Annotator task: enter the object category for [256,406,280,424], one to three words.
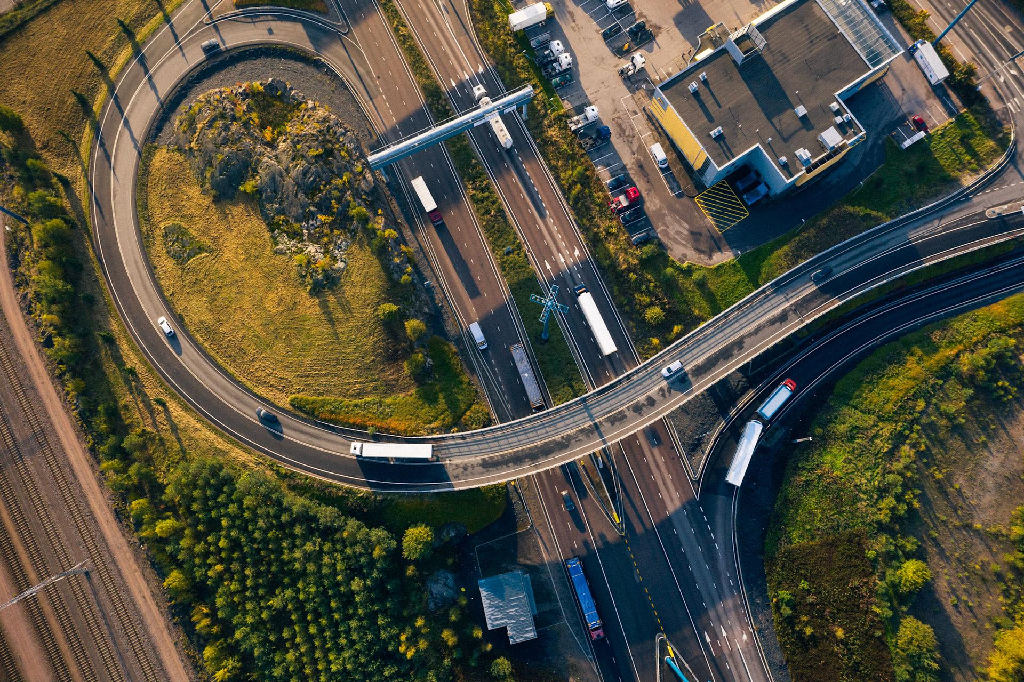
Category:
car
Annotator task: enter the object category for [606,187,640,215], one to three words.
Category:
truck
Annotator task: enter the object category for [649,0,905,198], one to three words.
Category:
building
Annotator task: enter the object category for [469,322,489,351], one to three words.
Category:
vehicle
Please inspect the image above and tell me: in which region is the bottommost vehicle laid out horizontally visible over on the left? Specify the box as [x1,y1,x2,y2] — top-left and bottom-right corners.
[352,442,435,458]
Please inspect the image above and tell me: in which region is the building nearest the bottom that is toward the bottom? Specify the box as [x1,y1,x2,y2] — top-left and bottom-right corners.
[477,570,538,644]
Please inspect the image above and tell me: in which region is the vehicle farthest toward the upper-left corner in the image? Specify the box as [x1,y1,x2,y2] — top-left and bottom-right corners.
[201,41,222,54]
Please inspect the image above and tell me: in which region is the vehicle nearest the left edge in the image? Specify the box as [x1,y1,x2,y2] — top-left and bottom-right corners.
[160,317,176,337]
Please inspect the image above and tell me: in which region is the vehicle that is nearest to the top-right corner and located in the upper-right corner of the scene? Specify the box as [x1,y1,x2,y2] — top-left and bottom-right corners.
[902,44,948,90]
